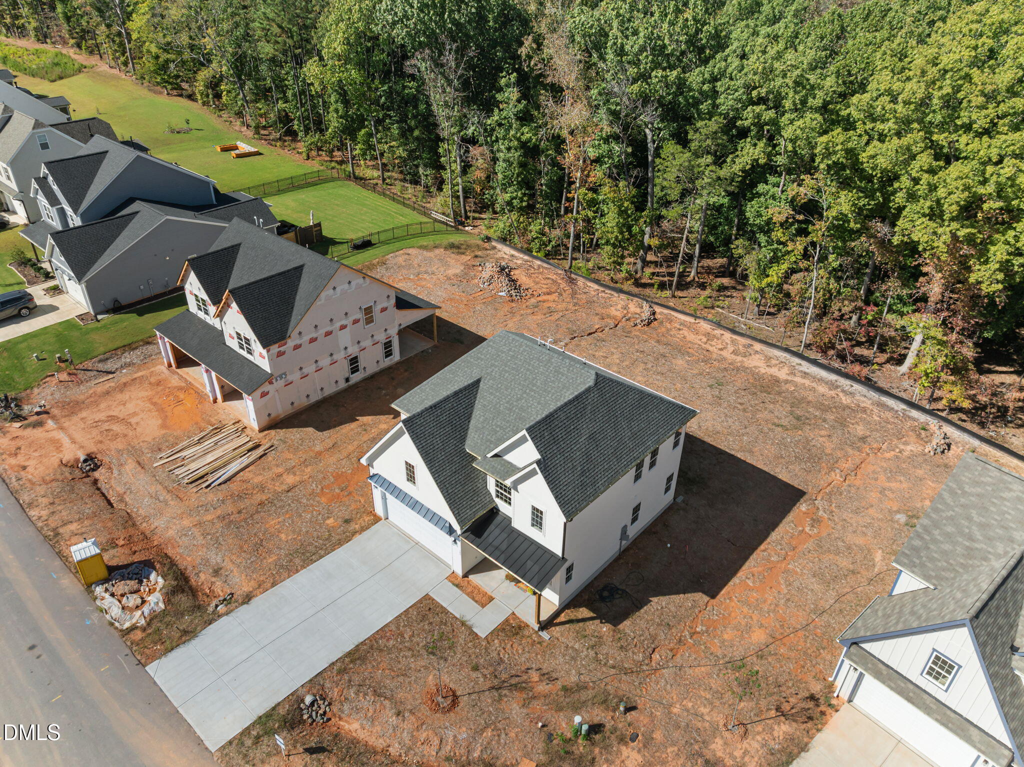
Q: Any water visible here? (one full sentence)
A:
No, water can't be seen anywhere here.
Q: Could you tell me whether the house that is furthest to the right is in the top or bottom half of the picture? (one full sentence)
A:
You can find the house that is furthest to the right in the bottom half.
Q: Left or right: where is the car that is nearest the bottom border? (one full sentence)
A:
It is on the left.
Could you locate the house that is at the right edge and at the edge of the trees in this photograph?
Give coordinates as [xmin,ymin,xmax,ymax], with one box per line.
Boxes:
[827,451,1024,767]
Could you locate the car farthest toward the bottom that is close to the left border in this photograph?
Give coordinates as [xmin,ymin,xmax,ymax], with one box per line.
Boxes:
[0,289,37,320]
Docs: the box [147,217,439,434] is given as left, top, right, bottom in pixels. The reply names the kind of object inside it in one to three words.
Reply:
house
